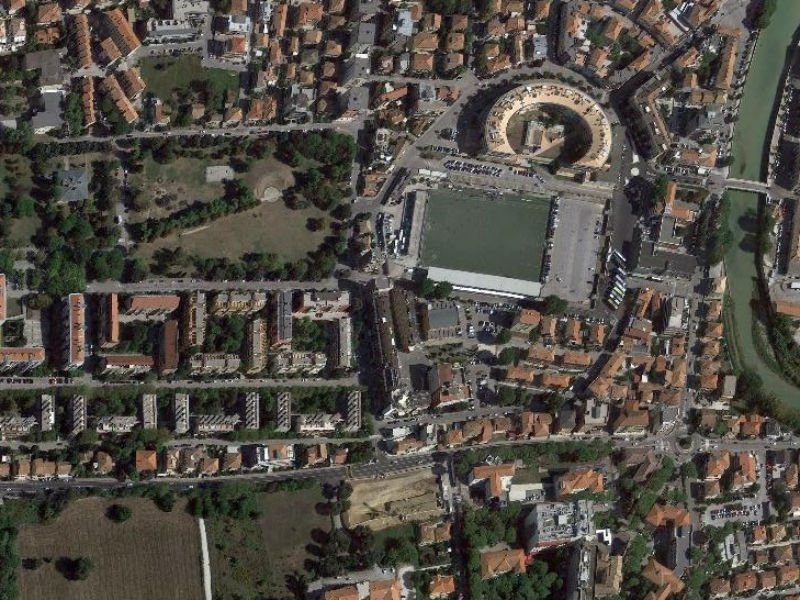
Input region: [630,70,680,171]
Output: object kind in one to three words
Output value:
building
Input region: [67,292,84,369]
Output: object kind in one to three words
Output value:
building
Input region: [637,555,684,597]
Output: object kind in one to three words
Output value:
house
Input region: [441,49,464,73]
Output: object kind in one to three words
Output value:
house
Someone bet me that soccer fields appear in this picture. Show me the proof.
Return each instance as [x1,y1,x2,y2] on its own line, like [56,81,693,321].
[421,190,551,282]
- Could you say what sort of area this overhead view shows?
residential area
